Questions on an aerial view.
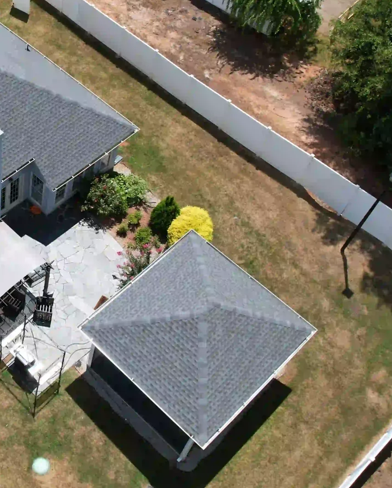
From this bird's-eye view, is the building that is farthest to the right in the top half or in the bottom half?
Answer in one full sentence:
The bottom half of the photo is where the building that is farthest to the right is.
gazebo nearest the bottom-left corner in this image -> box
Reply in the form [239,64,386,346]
[0,314,68,400]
